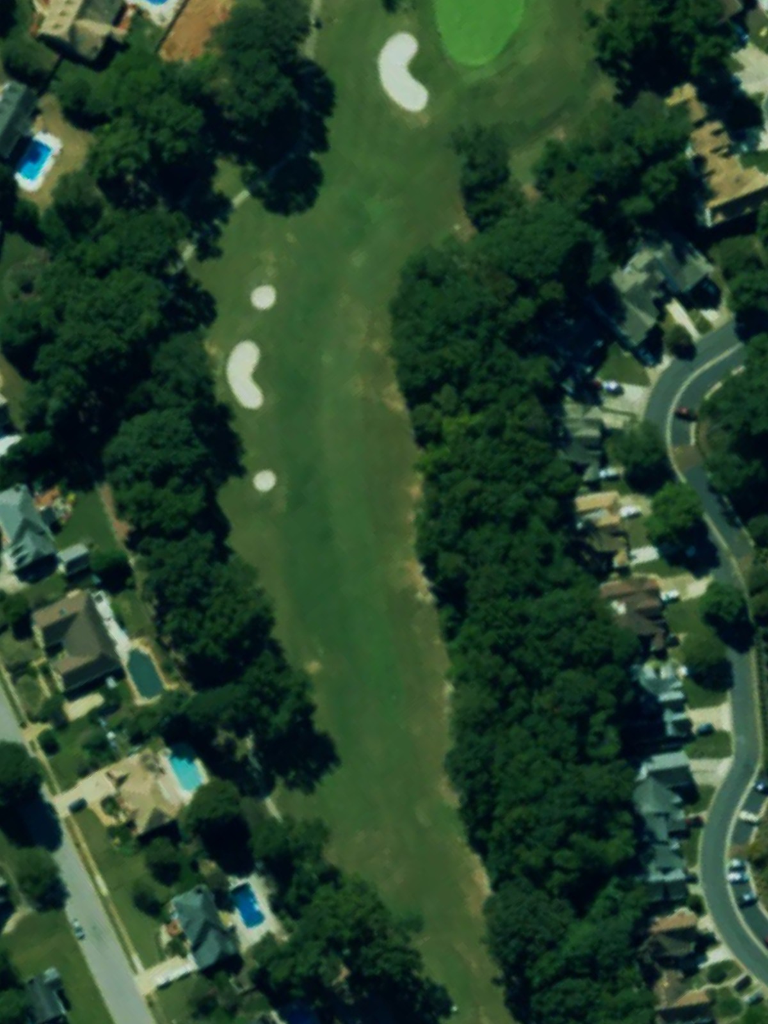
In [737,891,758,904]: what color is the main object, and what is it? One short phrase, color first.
blue vehicle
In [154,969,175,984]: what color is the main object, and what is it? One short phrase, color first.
white car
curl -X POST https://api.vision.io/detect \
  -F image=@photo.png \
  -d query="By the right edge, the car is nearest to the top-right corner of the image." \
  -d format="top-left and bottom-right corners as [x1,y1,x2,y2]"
[735,25,750,44]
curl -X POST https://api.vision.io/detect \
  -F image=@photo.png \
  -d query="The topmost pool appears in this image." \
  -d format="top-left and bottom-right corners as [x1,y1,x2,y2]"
[129,0,181,26]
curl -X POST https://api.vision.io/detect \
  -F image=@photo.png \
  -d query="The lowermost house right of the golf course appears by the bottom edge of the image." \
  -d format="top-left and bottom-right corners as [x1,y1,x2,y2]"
[653,970,718,1024]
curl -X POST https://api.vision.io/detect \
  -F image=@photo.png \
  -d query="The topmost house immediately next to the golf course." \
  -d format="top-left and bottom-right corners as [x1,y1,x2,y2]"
[664,81,768,222]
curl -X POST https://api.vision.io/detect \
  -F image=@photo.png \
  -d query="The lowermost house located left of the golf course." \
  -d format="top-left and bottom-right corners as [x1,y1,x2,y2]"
[25,969,70,1024]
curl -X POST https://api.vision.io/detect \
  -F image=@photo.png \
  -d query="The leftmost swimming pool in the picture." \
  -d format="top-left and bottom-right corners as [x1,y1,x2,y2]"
[12,131,63,190]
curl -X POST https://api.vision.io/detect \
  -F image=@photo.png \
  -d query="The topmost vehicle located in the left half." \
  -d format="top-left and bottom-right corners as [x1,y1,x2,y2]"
[67,797,88,813]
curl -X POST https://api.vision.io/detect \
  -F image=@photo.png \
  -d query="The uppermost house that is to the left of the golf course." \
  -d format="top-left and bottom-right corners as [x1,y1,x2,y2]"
[40,0,117,60]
